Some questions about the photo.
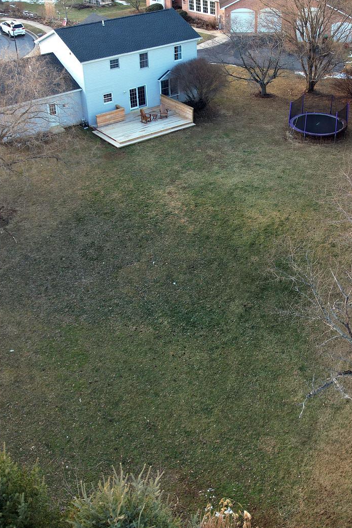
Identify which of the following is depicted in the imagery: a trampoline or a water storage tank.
trampoline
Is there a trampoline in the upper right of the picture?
Yes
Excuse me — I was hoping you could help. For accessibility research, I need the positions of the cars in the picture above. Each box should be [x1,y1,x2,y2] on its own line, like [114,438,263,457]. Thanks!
[0,20,29,39]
